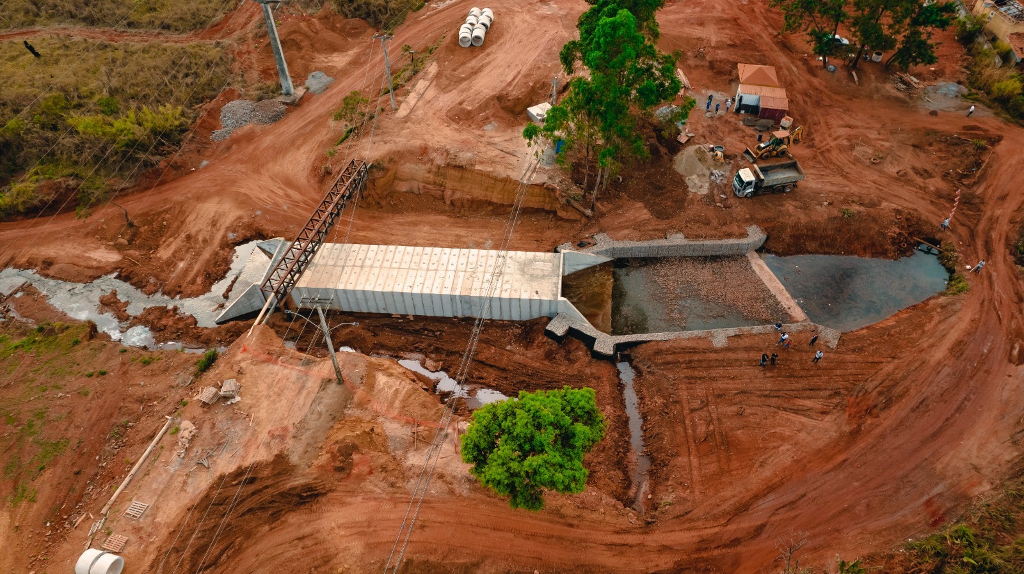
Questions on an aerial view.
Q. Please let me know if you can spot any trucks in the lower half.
No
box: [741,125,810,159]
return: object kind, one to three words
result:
work vehicle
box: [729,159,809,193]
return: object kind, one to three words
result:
truck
